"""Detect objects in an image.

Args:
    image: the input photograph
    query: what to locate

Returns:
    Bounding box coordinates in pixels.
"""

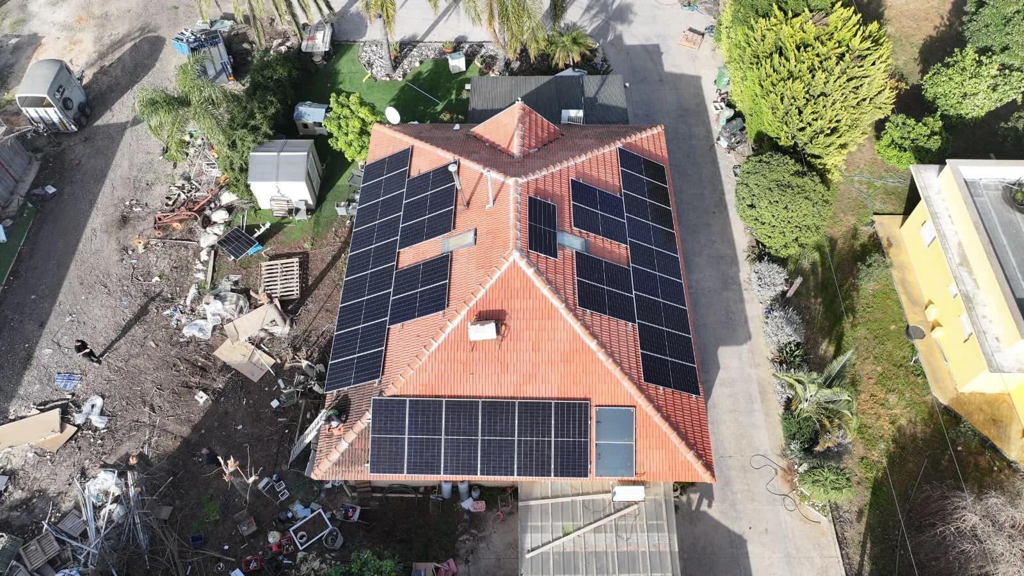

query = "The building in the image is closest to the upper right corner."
[902,152,1024,416]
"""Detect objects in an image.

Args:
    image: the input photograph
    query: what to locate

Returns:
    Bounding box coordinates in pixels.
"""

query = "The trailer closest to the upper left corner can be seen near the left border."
[18,60,94,131]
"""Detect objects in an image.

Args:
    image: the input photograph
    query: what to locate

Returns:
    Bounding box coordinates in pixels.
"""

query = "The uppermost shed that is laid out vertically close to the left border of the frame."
[0,111,46,217]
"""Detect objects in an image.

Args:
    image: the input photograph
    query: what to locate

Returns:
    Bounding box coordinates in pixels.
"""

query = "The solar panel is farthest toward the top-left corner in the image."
[218,227,258,260]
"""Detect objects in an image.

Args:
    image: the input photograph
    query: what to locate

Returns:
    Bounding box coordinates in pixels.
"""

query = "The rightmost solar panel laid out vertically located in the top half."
[530,195,559,262]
